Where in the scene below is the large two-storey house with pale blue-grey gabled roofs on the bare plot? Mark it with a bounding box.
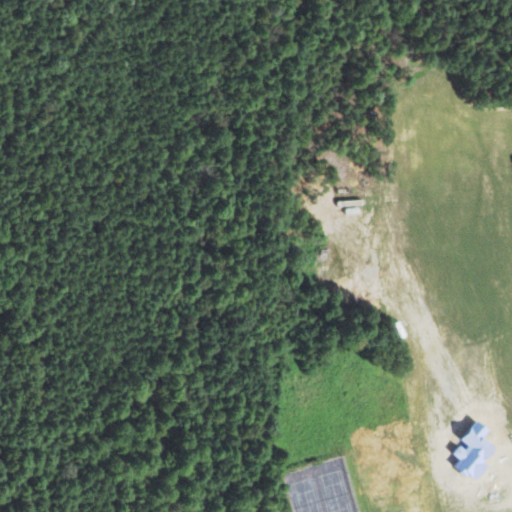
[454,422,497,480]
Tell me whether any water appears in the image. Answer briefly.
No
